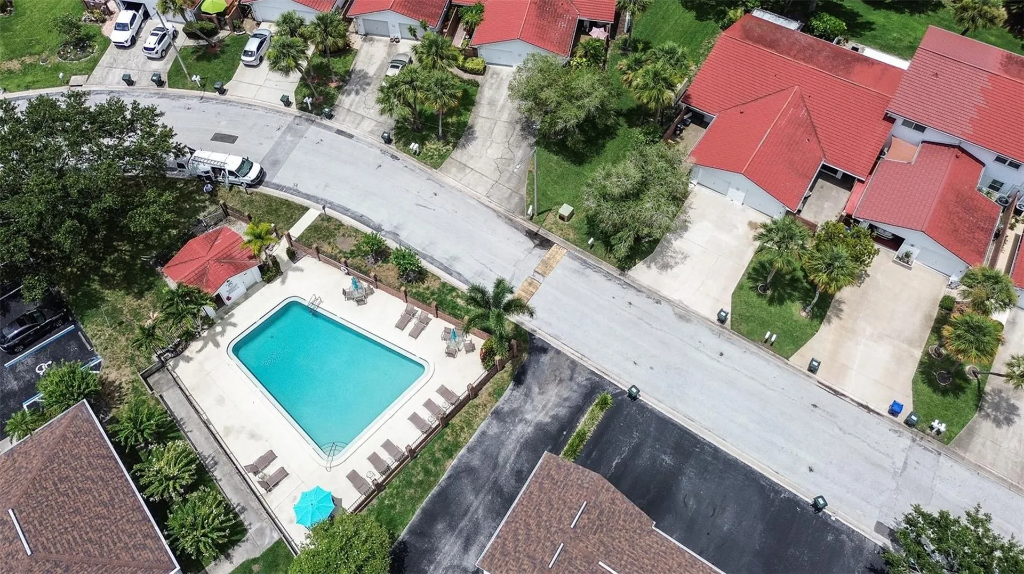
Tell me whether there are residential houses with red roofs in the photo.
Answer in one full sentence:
Yes, a residential house with a red roof can be made out from above.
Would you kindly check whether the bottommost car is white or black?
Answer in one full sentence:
The color of the bottommost car is black.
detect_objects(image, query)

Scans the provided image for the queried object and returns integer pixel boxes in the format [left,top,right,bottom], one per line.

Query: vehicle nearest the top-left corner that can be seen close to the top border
[110,3,152,48]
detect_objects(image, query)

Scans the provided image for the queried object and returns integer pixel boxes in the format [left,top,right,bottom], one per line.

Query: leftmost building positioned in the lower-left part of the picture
[0,399,182,574]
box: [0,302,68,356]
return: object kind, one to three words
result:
car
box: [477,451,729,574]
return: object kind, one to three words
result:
building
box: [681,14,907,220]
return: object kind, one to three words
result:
house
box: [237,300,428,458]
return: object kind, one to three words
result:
swimming pool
